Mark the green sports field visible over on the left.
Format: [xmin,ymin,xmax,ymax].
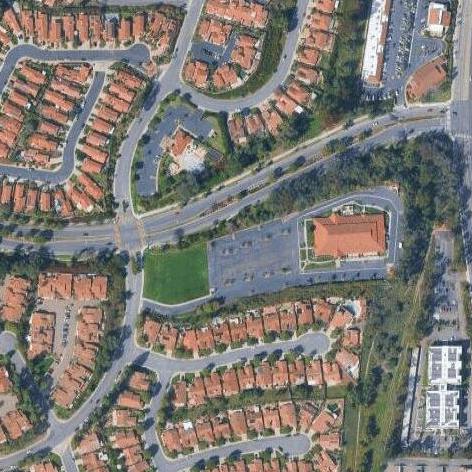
[144,242,209,304]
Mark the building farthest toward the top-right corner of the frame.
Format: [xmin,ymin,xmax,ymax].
[430,3,451,30]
